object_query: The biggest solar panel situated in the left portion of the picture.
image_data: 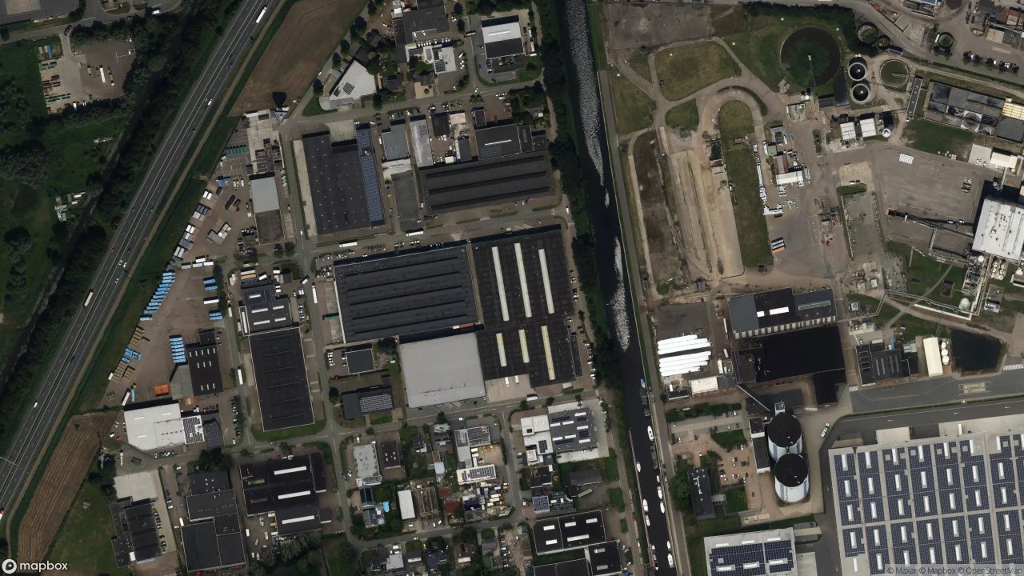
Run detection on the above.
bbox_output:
[361,150,383,218]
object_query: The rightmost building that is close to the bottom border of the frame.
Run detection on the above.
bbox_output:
[828,429,1024,576]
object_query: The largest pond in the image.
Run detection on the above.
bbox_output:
[952,330,1003,373]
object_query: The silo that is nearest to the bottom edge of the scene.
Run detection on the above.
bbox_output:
[773,453,809,500]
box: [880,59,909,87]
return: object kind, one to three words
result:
storage tank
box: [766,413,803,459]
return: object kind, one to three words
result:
silo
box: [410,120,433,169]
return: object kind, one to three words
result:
building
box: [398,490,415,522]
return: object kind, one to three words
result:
shed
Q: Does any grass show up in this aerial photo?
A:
Yes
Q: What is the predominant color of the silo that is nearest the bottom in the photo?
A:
black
